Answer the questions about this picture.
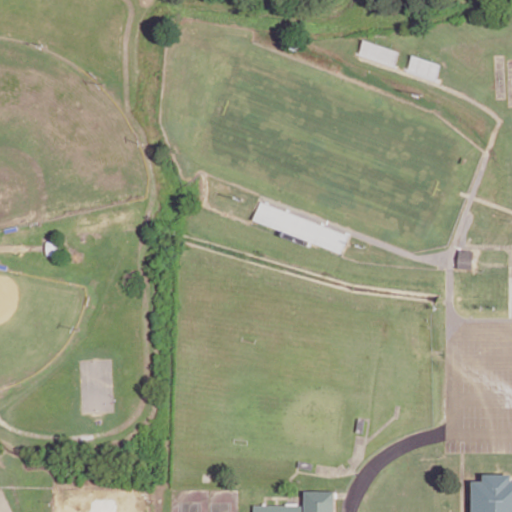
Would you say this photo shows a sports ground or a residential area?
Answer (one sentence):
This looks like a sports ground.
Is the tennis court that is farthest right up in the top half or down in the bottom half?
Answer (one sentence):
Seen from above, the tennis court that is farthest right lies in the bottom half of the view.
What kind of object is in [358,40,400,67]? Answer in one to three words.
shed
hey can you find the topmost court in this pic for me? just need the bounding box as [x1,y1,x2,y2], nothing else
[80,359,114,416]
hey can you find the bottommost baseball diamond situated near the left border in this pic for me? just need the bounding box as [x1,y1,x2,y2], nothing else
[0,271,86,390]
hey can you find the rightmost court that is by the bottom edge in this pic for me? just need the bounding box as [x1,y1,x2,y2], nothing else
[209,490,238,512]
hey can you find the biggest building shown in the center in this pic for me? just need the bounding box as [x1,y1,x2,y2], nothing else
[252,202,350,254]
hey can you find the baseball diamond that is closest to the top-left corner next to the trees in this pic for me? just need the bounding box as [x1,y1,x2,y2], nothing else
[0,38,148,228]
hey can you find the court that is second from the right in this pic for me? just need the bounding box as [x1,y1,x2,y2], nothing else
[172,490,208,512]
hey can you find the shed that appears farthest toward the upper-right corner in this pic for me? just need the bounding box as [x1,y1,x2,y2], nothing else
[407,56,442,81]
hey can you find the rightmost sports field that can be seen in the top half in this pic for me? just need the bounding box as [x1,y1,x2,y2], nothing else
[165,25,480,250]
